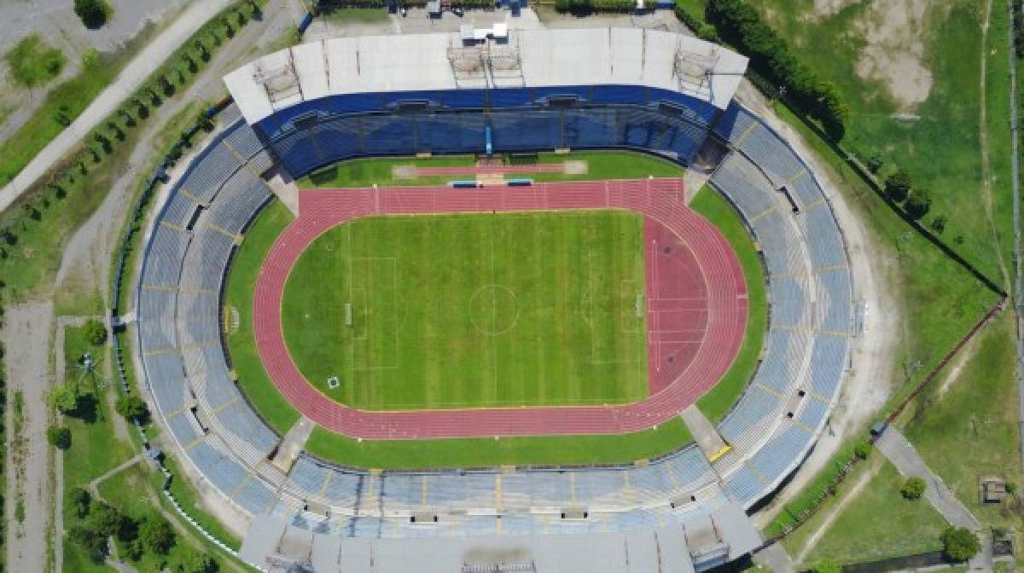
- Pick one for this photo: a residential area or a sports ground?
sports ground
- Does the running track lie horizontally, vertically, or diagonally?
horizontally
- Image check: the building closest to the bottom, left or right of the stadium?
right of it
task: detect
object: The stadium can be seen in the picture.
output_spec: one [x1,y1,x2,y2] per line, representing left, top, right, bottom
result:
[135,22,867,573]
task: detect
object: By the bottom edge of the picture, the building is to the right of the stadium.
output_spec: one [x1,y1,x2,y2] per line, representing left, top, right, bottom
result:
[990,530,1018,557]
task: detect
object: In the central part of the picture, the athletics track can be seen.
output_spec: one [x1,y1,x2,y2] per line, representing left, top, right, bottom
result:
[253,178,749,440]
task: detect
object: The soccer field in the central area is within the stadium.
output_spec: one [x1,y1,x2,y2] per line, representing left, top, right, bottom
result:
[348,210,645,409]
